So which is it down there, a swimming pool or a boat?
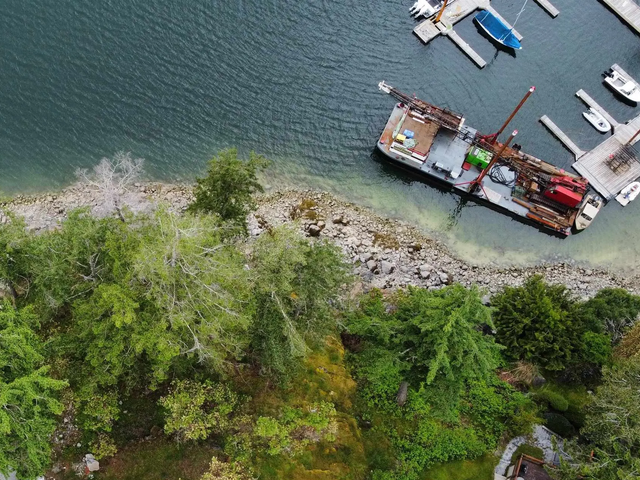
boat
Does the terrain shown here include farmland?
No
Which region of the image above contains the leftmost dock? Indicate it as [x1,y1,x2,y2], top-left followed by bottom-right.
[413,18,442,46]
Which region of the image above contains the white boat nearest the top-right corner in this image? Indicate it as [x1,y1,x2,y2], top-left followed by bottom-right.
[600,66,640,104]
